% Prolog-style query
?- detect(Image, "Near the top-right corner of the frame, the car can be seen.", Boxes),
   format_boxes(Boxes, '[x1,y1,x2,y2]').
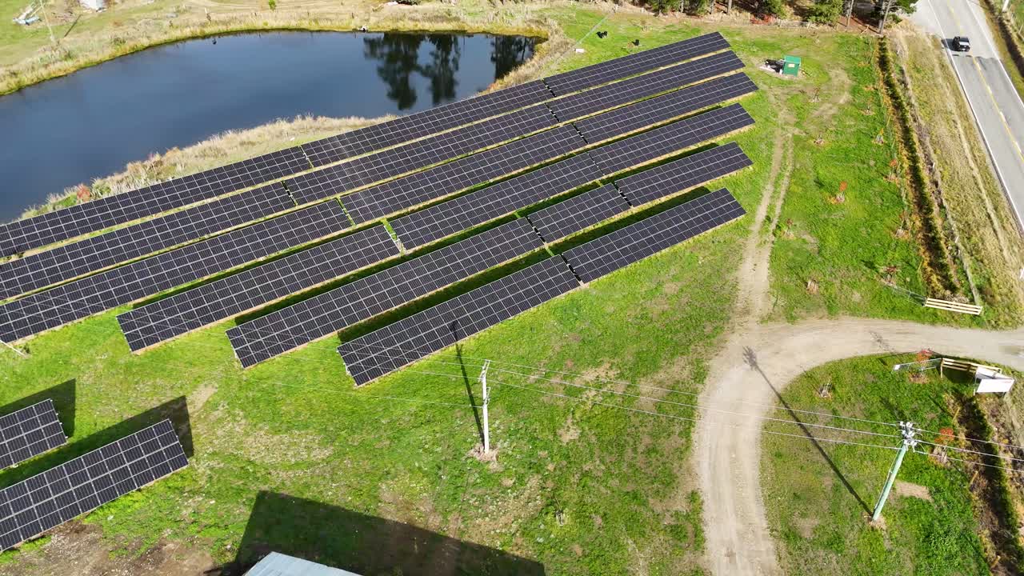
[954,33,972,49]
